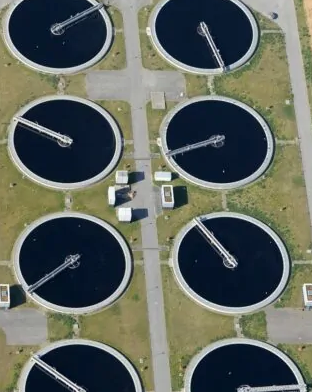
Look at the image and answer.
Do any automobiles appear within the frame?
No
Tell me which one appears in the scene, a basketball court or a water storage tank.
water storage tank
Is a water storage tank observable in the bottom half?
Yes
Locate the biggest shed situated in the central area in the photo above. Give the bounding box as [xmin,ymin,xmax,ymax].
[161,185,175,211]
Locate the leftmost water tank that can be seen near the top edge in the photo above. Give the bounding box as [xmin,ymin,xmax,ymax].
[2,0,113,75]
